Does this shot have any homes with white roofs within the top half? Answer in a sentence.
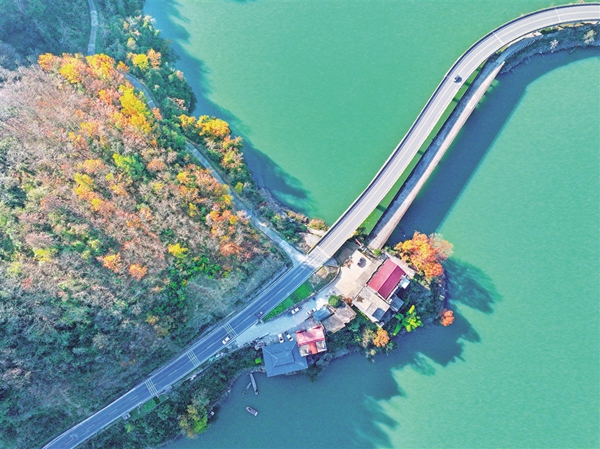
No, no home with a white roof can be made out within the top half.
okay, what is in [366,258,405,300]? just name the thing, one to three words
house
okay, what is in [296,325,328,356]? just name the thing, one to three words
house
